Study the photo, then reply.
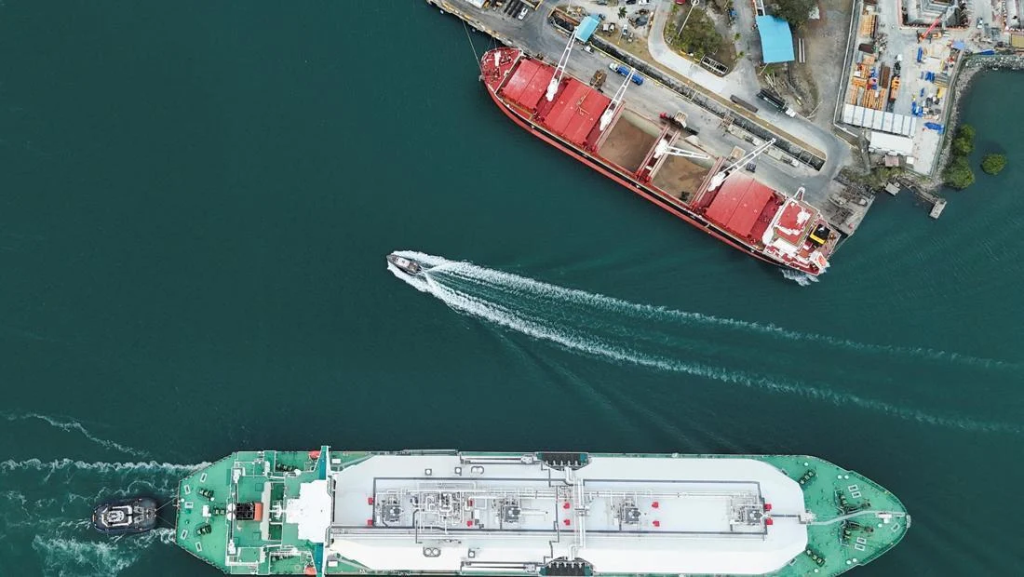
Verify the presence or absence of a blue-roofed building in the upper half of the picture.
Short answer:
Yes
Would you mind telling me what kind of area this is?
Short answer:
port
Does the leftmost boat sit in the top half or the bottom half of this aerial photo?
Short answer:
bottom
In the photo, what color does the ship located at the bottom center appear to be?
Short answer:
white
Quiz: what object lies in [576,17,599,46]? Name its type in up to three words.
shed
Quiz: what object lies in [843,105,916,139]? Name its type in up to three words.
shed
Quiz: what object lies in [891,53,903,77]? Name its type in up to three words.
vehicle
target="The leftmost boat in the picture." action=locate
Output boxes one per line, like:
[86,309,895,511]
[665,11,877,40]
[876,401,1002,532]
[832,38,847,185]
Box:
[89,498,161,534]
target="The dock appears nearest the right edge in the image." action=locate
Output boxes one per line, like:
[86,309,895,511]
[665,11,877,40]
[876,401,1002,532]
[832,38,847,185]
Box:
[897,180,947,218]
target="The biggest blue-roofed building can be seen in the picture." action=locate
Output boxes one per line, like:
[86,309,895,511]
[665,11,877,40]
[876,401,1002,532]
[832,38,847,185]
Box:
[753,16,794,67]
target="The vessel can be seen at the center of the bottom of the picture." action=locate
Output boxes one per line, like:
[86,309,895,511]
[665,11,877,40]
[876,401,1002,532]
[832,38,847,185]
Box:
[171,446,912,577]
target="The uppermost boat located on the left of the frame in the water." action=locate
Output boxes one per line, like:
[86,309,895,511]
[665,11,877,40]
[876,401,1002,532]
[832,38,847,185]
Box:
[388,254,423,276]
